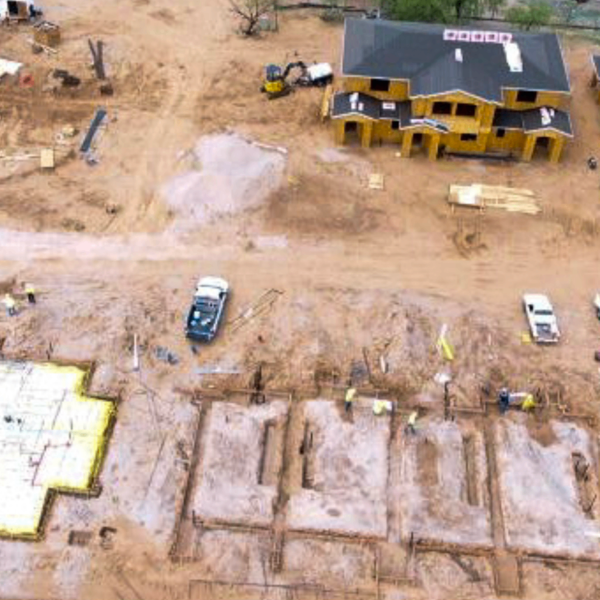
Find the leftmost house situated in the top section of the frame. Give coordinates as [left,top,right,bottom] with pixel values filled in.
[330,18,574,163]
